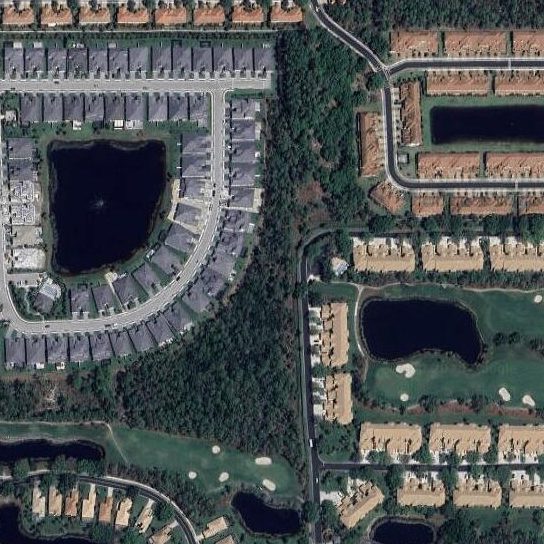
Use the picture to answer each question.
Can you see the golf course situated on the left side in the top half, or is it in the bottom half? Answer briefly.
bottom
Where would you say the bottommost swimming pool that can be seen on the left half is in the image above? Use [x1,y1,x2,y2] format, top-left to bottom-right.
[41,280,62,300]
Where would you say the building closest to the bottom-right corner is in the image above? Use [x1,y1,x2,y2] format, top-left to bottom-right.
[509,482,544,510]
